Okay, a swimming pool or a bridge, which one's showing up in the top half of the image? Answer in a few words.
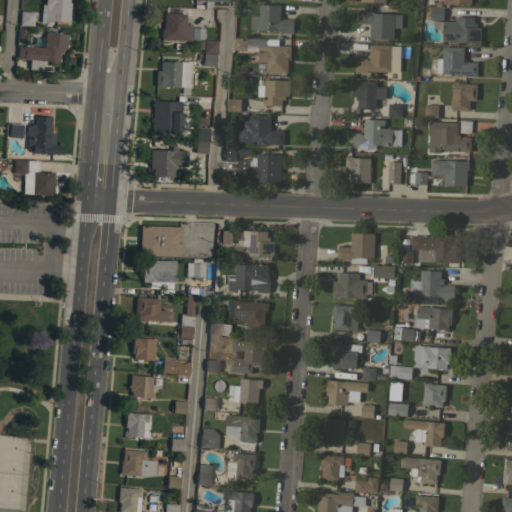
swimming pool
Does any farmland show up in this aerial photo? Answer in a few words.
No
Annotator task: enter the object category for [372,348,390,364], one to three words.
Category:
swimming pool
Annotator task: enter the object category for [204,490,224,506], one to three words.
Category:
swimming pool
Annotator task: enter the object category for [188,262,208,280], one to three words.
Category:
building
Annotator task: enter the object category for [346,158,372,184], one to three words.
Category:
house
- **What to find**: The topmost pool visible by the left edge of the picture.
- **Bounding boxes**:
[10,138,25,156]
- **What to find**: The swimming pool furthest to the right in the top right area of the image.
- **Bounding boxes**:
[425,22,442,42]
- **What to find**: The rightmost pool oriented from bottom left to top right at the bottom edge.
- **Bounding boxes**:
[383,496,401,512]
